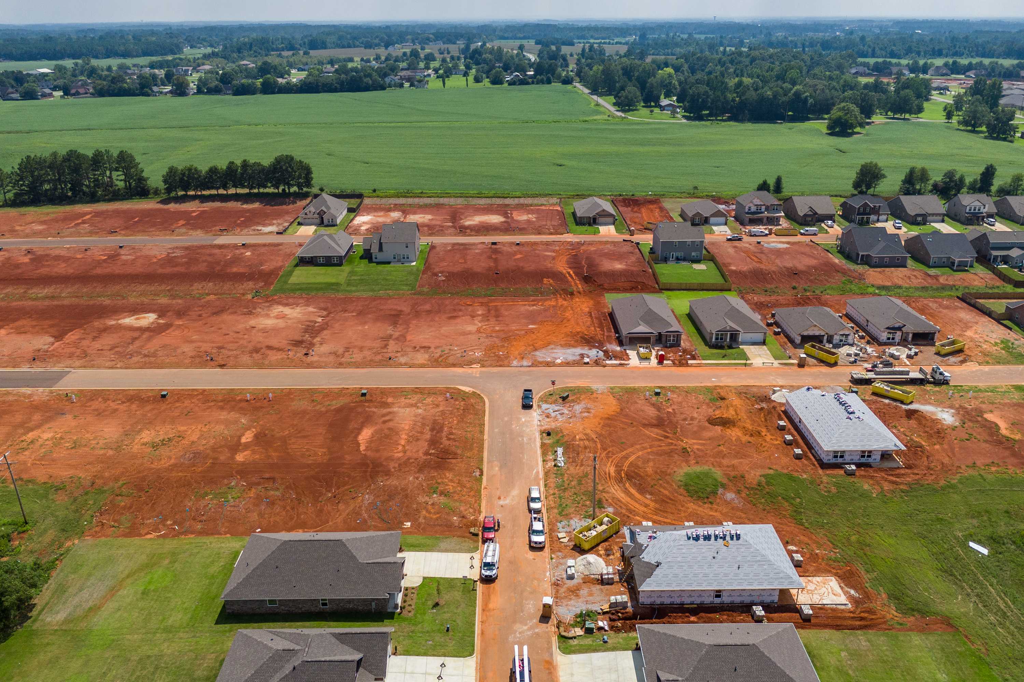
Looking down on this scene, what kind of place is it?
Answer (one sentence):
This looks like a residential area.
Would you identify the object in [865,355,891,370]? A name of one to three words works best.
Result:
work vehicle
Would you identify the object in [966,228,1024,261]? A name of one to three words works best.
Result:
house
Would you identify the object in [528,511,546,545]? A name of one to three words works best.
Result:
vehicle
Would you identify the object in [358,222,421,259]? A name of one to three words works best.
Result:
house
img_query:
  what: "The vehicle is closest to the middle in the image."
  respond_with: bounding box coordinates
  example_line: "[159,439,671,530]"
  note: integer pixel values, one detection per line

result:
[521,389,534,406]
